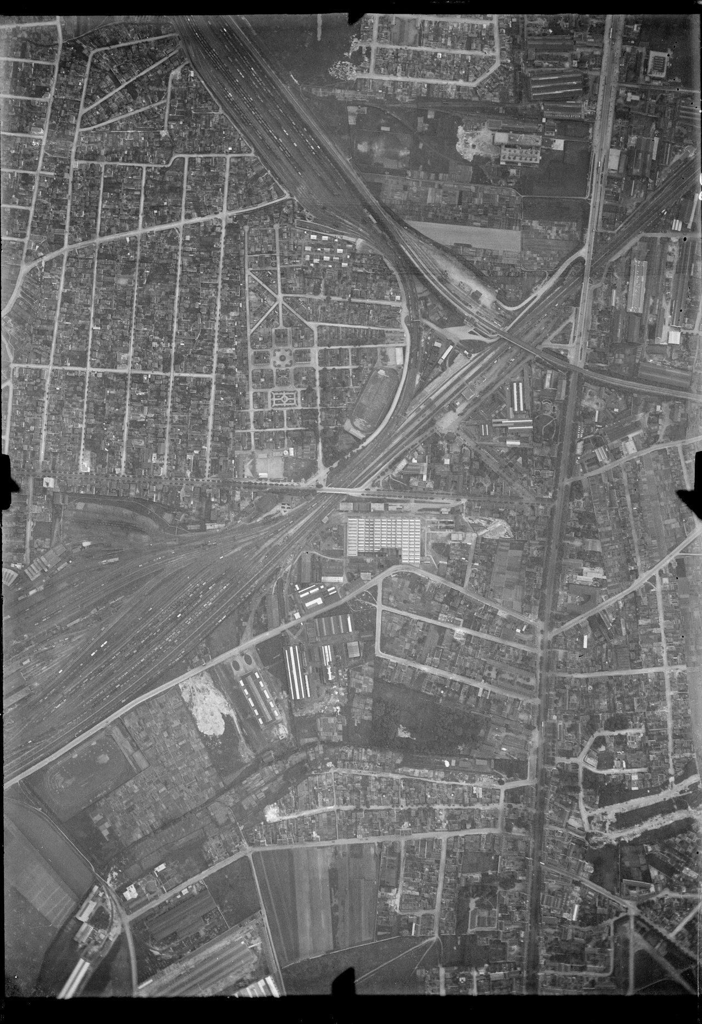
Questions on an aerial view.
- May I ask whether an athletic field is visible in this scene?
Yes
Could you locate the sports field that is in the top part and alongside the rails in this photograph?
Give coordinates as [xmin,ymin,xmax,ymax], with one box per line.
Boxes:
[352,367,400,432]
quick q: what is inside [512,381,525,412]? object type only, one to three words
shed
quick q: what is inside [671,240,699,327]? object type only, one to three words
shed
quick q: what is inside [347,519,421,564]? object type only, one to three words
building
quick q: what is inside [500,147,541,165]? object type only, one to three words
building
